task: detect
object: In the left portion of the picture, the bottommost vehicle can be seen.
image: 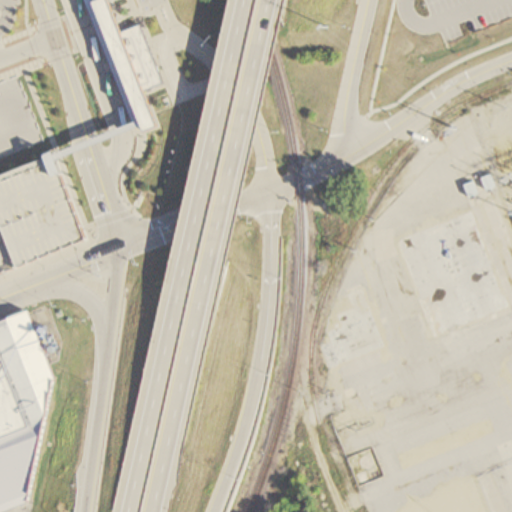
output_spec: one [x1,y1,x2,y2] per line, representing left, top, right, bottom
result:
[88,241,122,258]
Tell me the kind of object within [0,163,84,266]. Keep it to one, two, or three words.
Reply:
building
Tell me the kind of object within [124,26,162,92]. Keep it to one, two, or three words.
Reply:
building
